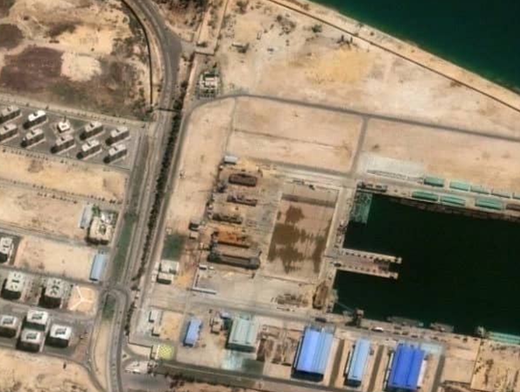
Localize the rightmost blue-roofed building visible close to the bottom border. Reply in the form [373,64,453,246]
[387,343,428,392]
